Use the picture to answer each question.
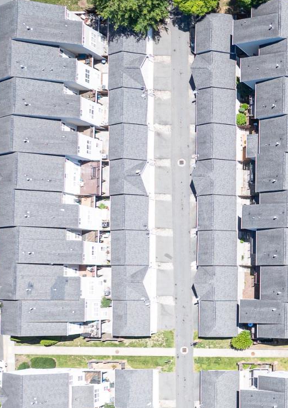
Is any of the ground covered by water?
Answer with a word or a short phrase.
No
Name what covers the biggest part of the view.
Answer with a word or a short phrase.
buildings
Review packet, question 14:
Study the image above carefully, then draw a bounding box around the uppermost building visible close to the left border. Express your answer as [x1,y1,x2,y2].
[0,0,106,55]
